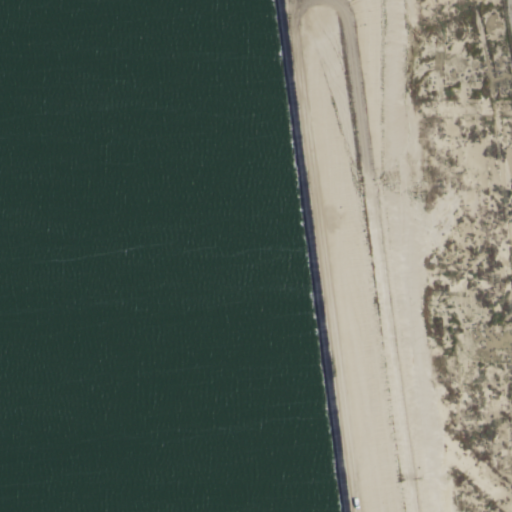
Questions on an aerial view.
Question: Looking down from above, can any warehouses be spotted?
No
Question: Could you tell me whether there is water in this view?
Yes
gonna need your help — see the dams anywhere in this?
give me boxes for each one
[276,0,404,512]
